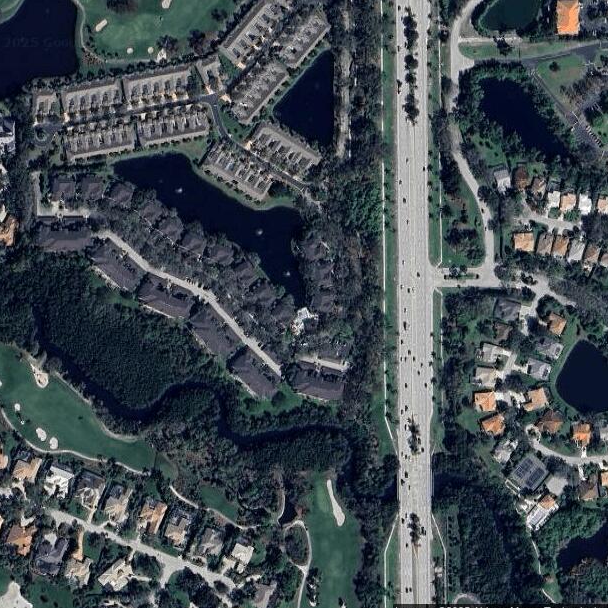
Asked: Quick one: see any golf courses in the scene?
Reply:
Yes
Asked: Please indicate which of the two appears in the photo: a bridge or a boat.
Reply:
bridge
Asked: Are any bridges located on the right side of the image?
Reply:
Yes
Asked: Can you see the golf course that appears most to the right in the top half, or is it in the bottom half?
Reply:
bottom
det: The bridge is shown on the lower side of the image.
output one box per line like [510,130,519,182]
[397,455,434,508]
